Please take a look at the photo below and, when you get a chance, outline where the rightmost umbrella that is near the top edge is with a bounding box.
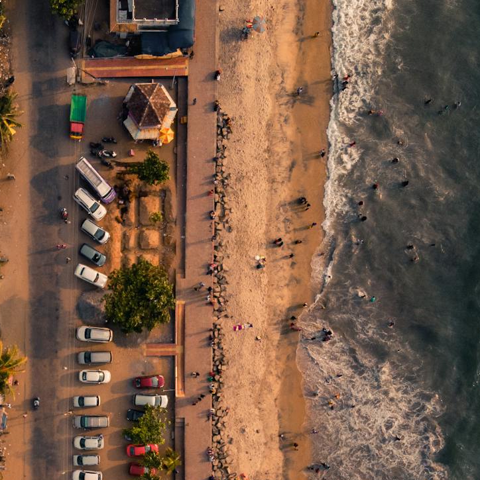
[250,18,263,31]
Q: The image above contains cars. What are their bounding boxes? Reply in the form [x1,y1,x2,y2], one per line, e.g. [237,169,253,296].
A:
[79,369,110,384]
[73,261,108,290]
[129,463,157,479]
[74,435,103,451]
[76,325,112,343]
[133,373,164,390]
[78,350,112,366]
[134,392,167,409]
[79,217,111,246]
[78,242,108,269]
[74,414,109,432]
[127,443,159,459]
[72,469,102,480]
[73,454,100,467]
[73,393,100,409]
[124,407,153,420]
[72,187,109,221]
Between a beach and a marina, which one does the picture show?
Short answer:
beach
